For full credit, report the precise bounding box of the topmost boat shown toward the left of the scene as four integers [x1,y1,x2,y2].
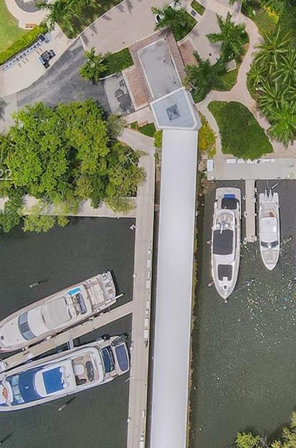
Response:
[0,271,124,351]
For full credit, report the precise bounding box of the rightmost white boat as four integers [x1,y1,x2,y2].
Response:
[260,192,279,270]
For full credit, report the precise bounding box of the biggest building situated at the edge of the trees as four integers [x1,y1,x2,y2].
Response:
[129,29,189,104]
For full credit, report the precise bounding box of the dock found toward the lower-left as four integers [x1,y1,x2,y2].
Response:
[7,300,134,369]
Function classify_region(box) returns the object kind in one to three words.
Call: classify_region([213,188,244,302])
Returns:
boat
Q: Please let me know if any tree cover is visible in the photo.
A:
Yes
